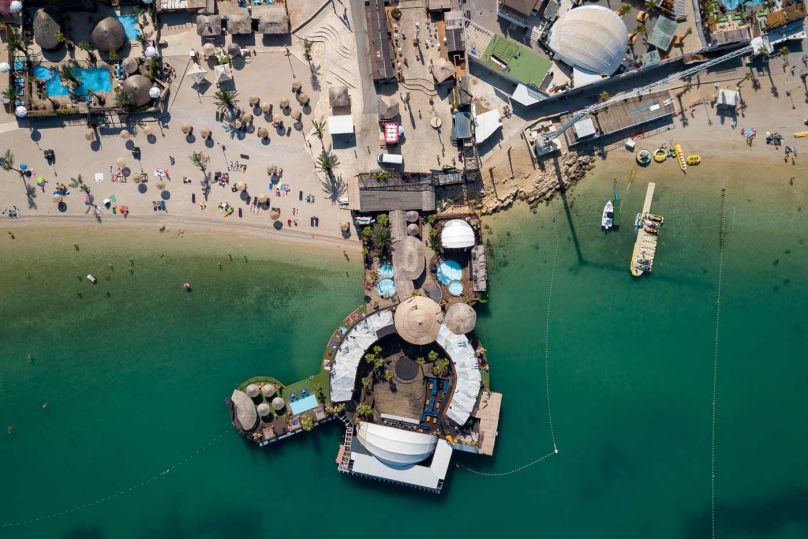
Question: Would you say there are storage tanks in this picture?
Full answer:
No, the photo shows no storage tank.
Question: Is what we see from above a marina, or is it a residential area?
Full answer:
What you see here is a marina.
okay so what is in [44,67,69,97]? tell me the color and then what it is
blue swimming pool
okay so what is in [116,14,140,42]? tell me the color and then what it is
blue swimming pool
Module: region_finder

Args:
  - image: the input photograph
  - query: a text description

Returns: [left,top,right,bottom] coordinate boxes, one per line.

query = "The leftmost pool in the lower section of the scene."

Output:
[290,394,319,415]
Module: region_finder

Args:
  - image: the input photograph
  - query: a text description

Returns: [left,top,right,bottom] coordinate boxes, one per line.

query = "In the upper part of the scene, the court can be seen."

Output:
[466,17,552,89]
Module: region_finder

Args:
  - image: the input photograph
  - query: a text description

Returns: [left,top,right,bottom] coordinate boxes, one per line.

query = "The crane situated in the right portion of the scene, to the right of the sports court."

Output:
[540,44,757,144]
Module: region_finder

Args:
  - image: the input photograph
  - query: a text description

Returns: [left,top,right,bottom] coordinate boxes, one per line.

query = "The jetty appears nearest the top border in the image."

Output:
[632,182,664,275]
